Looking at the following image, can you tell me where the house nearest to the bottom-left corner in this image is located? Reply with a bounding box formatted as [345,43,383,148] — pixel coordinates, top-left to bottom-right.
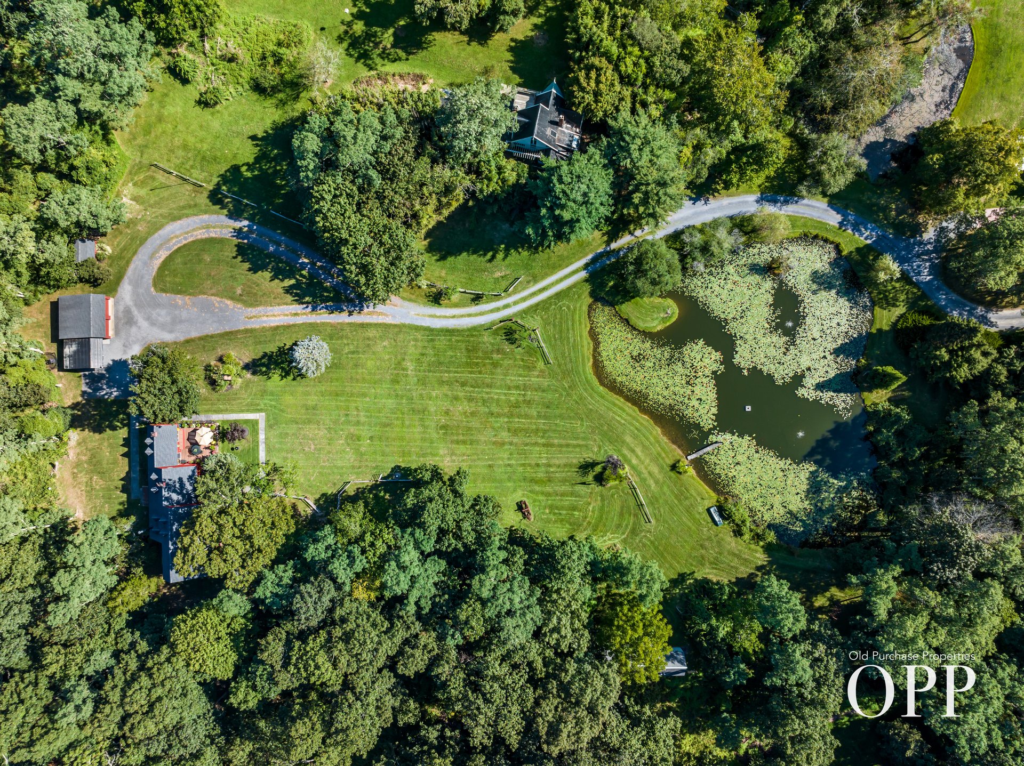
[140,423,213,587]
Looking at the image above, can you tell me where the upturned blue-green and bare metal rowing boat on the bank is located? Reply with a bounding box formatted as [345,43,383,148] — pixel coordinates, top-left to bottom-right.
[706,505,723,525]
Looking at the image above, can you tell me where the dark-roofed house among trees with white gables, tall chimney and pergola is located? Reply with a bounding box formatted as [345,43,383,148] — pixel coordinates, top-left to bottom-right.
[510,78,587,166]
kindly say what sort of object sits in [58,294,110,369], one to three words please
building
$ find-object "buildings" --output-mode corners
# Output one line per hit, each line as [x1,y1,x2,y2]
[657,648,688,676]
[74,239,99,263]
[510,78,587,166]
[140,423,213,587]
[58,294,110,369]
